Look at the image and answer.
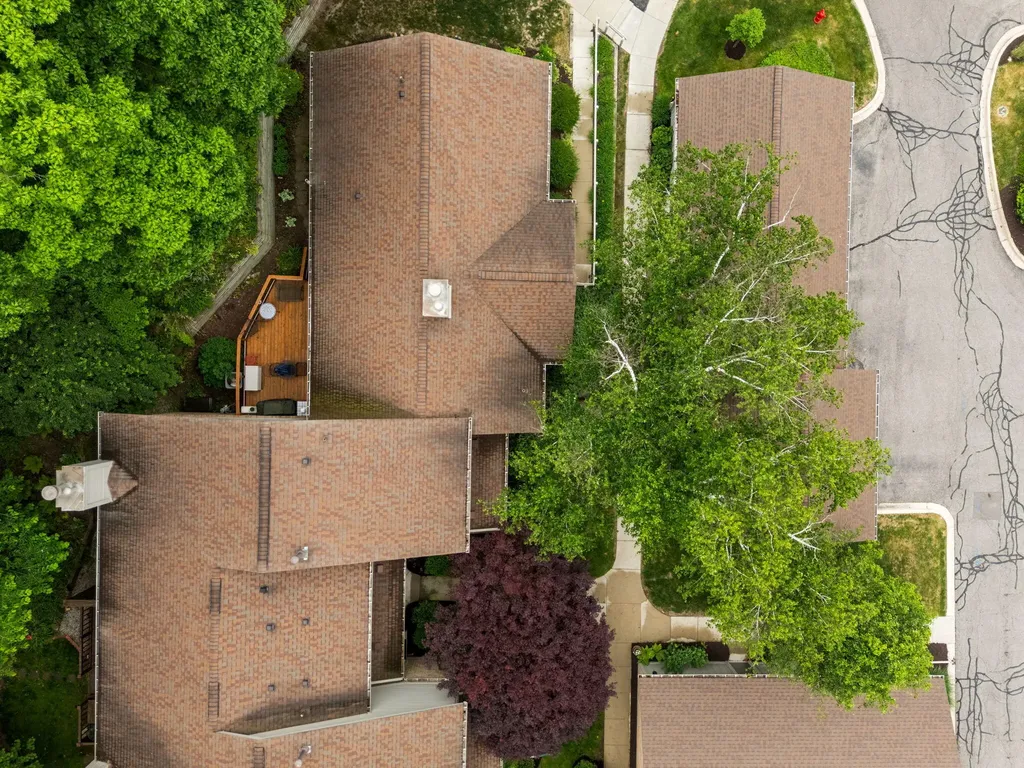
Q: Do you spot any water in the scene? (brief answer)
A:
No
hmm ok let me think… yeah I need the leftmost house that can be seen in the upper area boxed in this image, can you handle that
[306,33,574,437]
